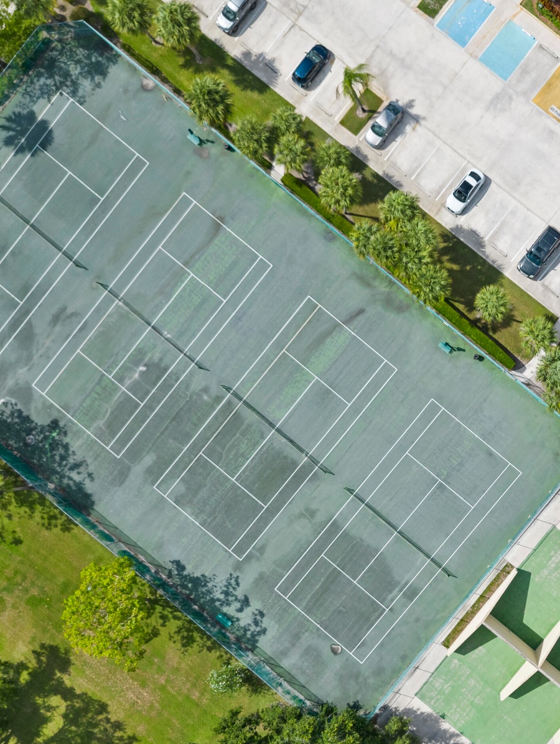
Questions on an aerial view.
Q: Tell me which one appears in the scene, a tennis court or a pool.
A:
tennis court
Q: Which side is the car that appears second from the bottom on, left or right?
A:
right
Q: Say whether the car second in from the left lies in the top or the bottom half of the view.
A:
top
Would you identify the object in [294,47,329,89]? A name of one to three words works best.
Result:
car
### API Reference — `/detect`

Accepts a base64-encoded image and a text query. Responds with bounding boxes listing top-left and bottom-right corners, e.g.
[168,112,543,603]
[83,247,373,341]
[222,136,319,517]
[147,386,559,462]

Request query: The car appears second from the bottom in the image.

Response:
[448,167,485,215]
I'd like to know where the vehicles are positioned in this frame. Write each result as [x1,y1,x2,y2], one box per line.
[448,167,485,215]
[294,47,329,89]
[368,100,404,149]
[520,226,560,278]
[218,0,257,35]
